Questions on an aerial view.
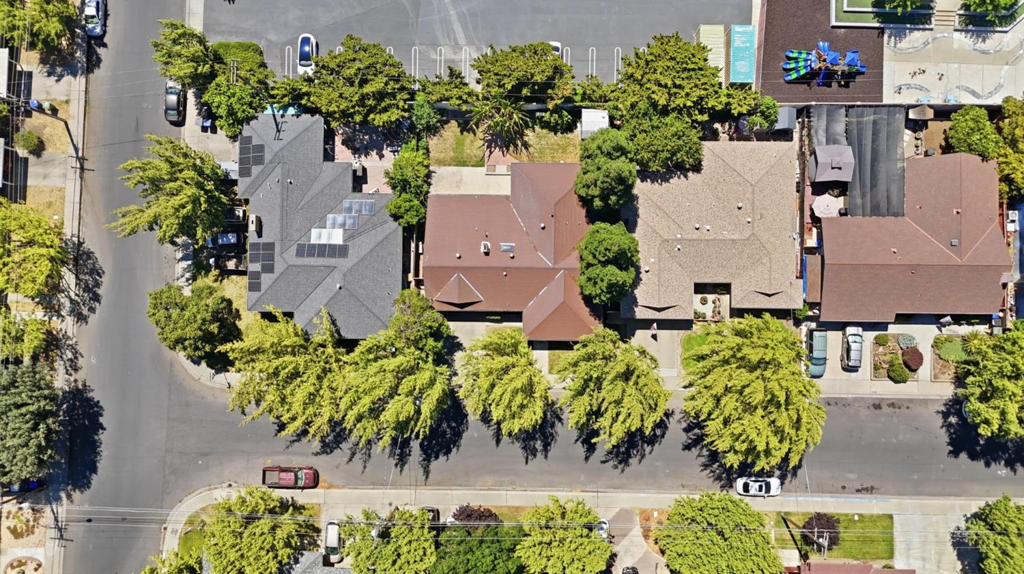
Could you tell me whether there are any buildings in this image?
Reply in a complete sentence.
Yes, looking at the shot, I can spot a building.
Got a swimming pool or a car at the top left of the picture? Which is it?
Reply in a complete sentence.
There is a car at the top left of the picture.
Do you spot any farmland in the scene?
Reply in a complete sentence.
No, farmland can't be seen anywhere here.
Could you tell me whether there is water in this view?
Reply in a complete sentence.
No, there's no water in this view.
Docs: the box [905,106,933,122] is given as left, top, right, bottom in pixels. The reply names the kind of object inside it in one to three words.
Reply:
shed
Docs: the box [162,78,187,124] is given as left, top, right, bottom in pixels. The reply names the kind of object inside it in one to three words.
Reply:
car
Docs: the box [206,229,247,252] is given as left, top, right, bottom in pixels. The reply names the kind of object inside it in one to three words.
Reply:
car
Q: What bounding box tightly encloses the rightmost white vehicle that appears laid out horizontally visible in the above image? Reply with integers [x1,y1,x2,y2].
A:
[734,475,780,498]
